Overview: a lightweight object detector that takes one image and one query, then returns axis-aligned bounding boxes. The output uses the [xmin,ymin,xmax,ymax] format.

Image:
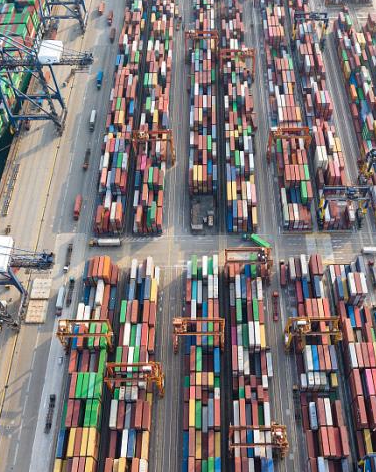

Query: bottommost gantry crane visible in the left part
[103,360,165,399]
